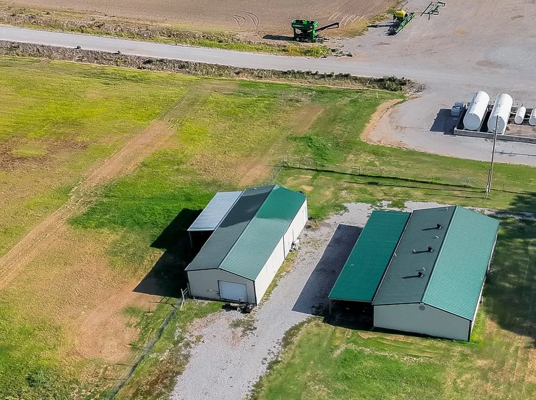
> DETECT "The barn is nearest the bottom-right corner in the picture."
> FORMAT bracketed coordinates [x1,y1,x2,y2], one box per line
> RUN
[331,199,499,345]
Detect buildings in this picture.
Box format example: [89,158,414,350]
[331,199,499,345]
[182,182,308,310]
